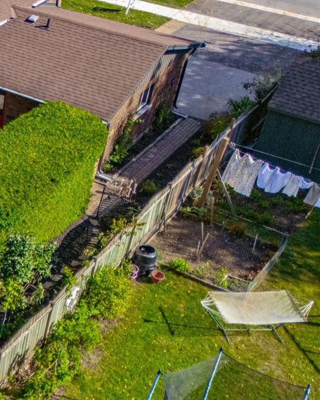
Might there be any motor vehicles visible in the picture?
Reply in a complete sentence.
No, there is no motor vehicle in the image.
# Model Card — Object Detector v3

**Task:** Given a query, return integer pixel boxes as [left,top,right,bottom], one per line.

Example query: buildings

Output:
[0,0,215,190]
[256,49,320,181]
